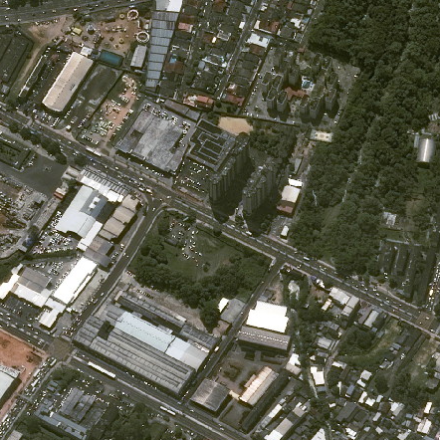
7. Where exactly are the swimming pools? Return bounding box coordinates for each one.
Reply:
[99,50,124,67]
[302,76,315,90]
